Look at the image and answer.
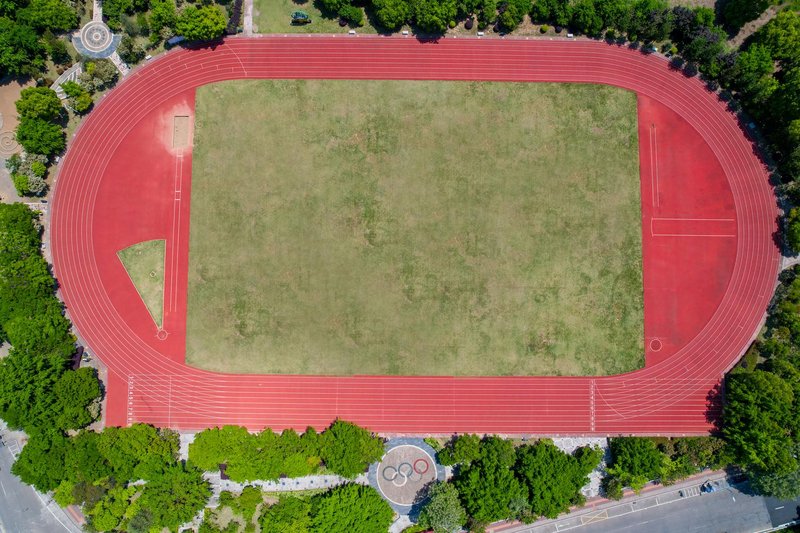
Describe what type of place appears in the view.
sports ground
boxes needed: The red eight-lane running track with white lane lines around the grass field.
[49,36,780,434]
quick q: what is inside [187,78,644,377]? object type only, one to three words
sports field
